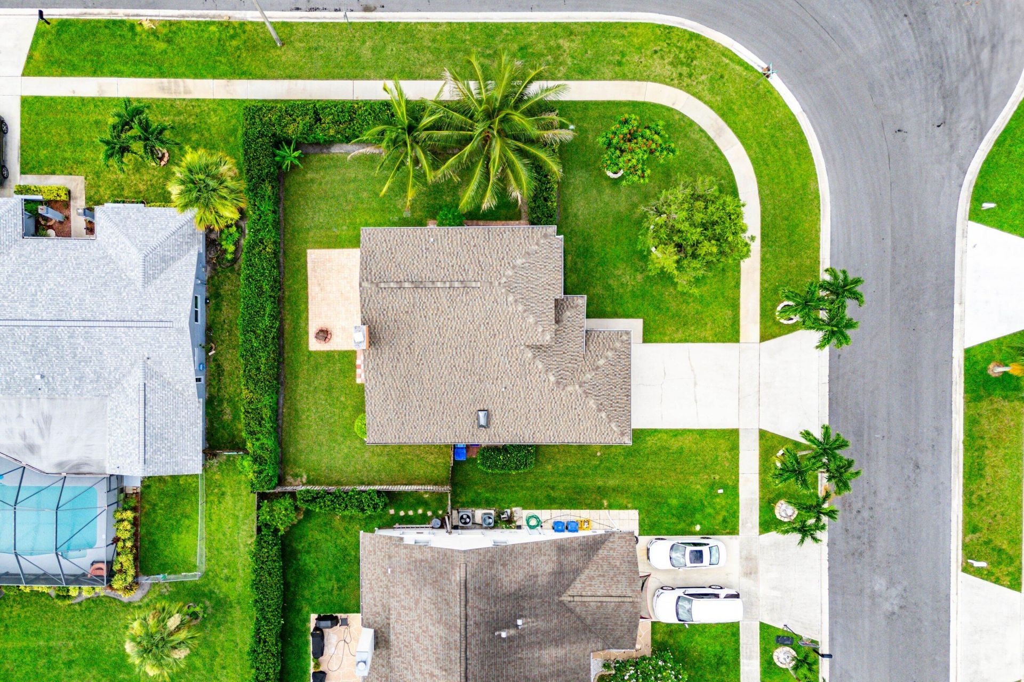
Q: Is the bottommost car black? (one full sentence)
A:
No, the color of the bottommost car is white.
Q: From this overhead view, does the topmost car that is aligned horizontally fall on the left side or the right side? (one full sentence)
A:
You can find the topmost car that is aligned horizontally on the right side of the picture.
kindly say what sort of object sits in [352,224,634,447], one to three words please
house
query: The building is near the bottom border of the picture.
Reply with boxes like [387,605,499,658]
[355,525,641,682]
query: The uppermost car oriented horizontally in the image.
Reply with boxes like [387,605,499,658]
[643,533,727,572]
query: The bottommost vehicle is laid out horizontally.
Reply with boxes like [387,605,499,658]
[650,582,742,626]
